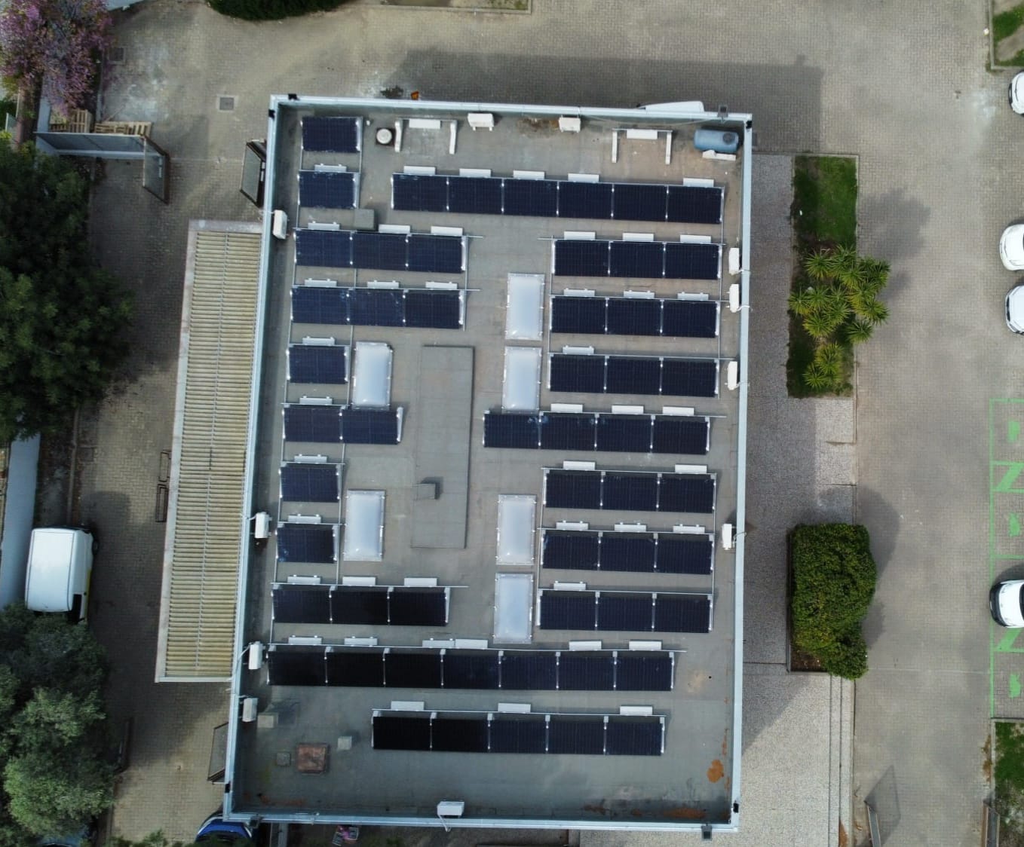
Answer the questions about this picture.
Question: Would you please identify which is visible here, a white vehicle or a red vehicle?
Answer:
white vehicle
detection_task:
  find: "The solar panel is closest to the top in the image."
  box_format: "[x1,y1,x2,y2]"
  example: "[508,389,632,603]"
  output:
[303,117,358,152]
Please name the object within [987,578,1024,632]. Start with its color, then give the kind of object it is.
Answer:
white car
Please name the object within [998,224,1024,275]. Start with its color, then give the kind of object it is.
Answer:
white car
